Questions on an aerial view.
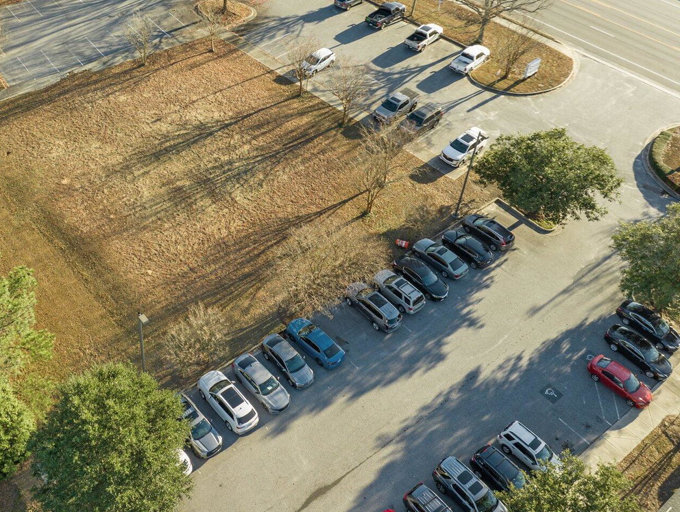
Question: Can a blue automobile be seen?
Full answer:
Yes, the frame does contain a blue automobile.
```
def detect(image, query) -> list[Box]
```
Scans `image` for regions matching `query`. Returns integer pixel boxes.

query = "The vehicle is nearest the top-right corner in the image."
[446,45,491,75]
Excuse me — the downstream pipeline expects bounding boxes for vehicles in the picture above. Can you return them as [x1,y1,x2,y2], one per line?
[401,483,453,512]
[371,88,422,125]
[400,101,443,135]
[344,284,404,336]
[258,331,319,392]
[370,268,430,317]
[232,351,292,415]
[199,373,260,436]
[402,24,446,51]
[602,323,676,382]
[332,0,365,10]
[459,214,517,256]
[462,433,530,502]
[391,253,450,303]
[582,350,657,413]
[299,49,336,76]
[493,411,567,478]
[443,130,487,166]
[286,317,346,374]
[440,229,497,272]
[171,394,231,463]
[412,238,471,283]
[434,456,506,512]
[612,300,680,356]
[446,45,491,75]
[364,2,406,28]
